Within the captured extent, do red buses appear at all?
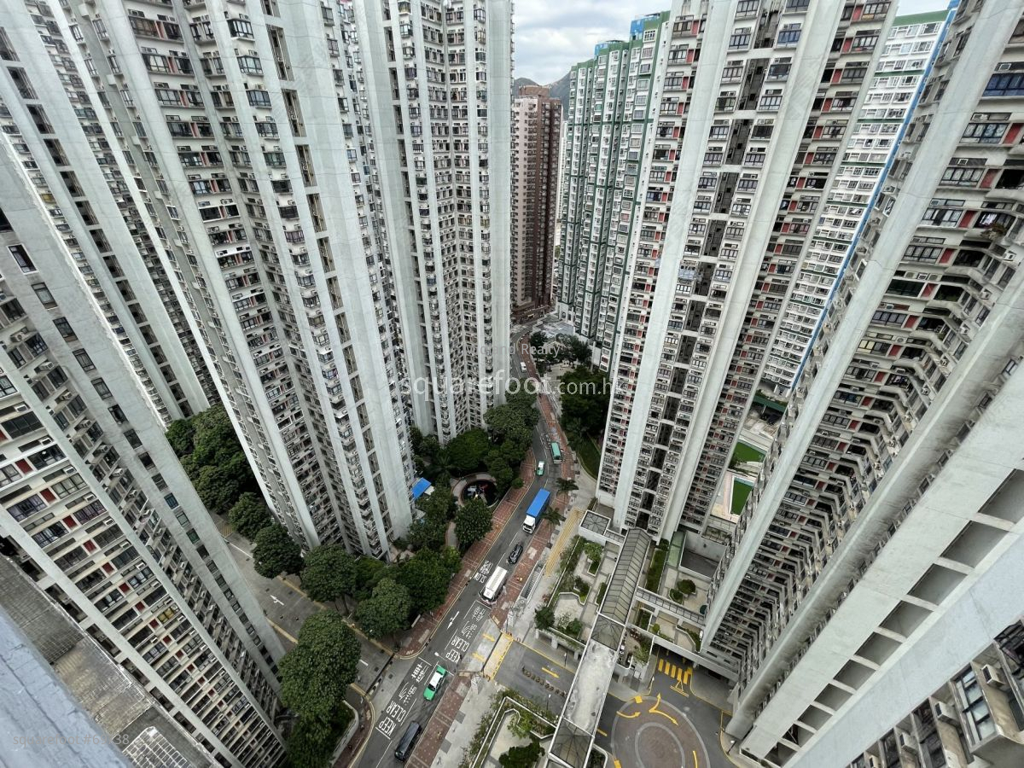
No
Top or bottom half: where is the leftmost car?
bottom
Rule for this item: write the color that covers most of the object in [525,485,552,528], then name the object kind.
blue truck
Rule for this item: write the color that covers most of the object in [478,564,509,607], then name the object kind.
white bus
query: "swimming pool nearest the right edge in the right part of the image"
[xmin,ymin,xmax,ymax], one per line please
[709,465,758,526]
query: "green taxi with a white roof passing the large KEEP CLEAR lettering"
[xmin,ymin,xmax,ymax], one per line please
[424,665,448,700]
